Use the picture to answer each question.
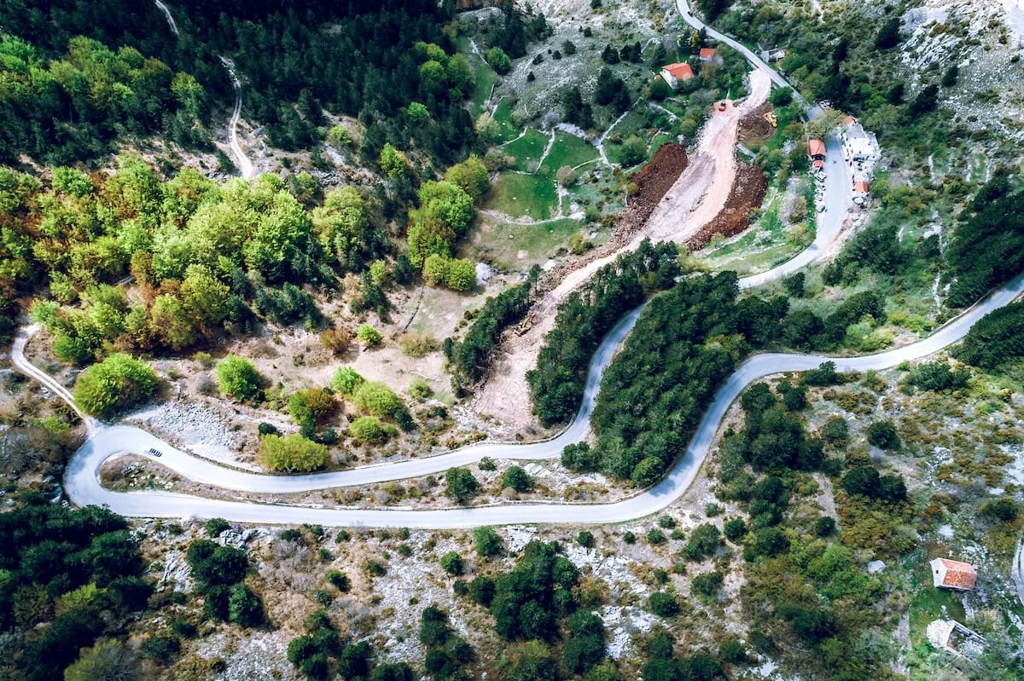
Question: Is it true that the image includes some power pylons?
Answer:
No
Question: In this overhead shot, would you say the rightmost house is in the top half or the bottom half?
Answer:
bottom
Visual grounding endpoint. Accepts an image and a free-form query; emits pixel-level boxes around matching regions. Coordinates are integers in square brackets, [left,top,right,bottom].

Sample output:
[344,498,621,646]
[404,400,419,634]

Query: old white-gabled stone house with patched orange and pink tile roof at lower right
[930,557,976,595]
